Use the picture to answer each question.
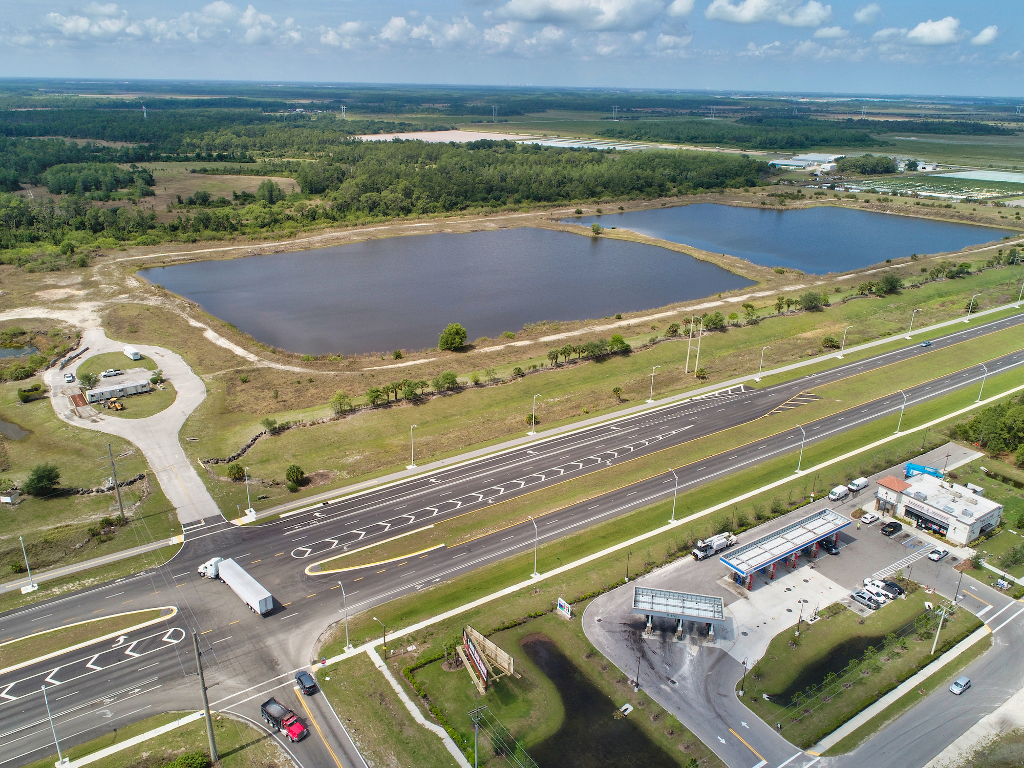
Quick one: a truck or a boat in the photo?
truck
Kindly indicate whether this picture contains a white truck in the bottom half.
Yes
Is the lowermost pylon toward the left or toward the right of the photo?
right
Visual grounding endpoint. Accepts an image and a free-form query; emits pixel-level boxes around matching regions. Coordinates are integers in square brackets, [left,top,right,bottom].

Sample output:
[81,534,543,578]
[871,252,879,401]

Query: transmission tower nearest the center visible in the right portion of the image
[685,316,705,377]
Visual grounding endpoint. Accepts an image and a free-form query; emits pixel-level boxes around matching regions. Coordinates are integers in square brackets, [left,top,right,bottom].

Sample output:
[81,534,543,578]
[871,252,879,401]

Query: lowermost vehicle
[256,696,311,743]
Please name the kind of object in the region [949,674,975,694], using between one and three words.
car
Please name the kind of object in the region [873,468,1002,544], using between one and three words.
building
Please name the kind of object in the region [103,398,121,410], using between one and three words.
vehicle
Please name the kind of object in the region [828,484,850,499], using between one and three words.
vehicle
